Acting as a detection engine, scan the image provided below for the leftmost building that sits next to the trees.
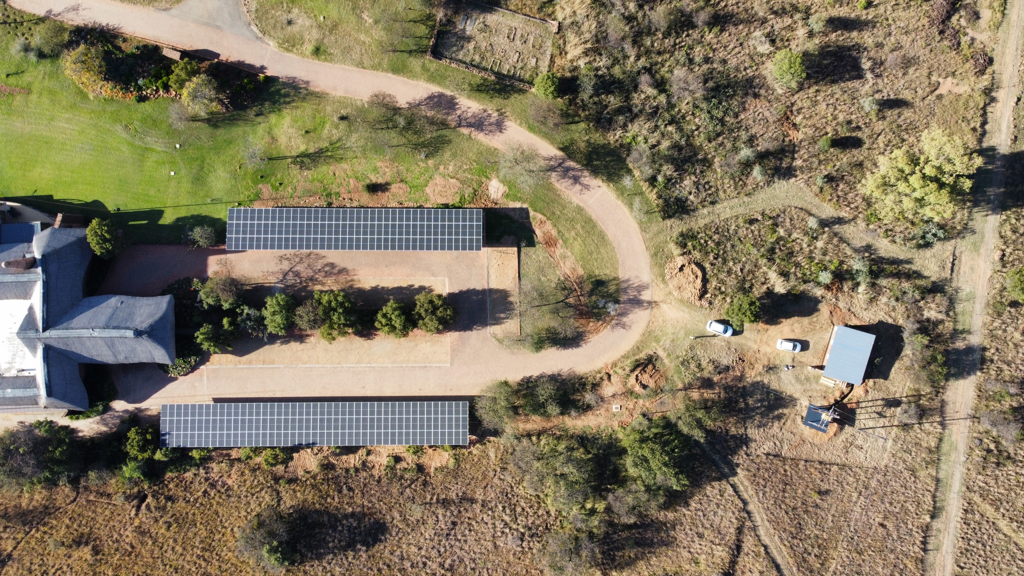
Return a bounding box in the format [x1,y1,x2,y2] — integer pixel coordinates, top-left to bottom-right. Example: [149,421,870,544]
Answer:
[0,216,176,413]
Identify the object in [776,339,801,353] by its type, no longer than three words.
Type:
car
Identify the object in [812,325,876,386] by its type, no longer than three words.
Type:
shed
